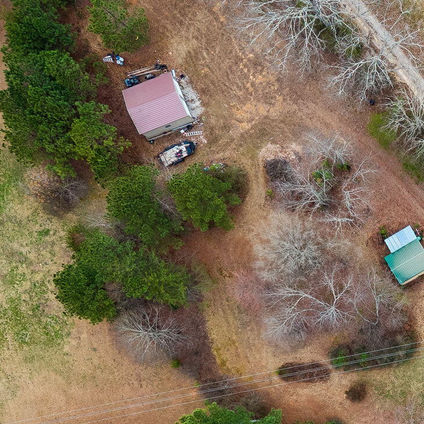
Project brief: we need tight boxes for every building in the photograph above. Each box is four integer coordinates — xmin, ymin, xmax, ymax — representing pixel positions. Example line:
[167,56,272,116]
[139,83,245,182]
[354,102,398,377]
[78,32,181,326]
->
[122,72,194,140]
[378,227,424,285]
